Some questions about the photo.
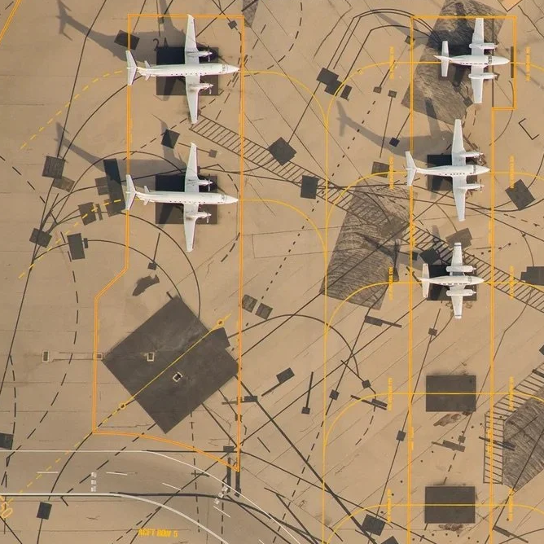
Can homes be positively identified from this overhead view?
No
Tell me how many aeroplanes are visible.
5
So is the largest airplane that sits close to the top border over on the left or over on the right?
left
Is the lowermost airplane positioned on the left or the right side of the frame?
right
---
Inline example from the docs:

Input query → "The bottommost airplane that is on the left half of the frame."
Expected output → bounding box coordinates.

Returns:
[120,143,237,249]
